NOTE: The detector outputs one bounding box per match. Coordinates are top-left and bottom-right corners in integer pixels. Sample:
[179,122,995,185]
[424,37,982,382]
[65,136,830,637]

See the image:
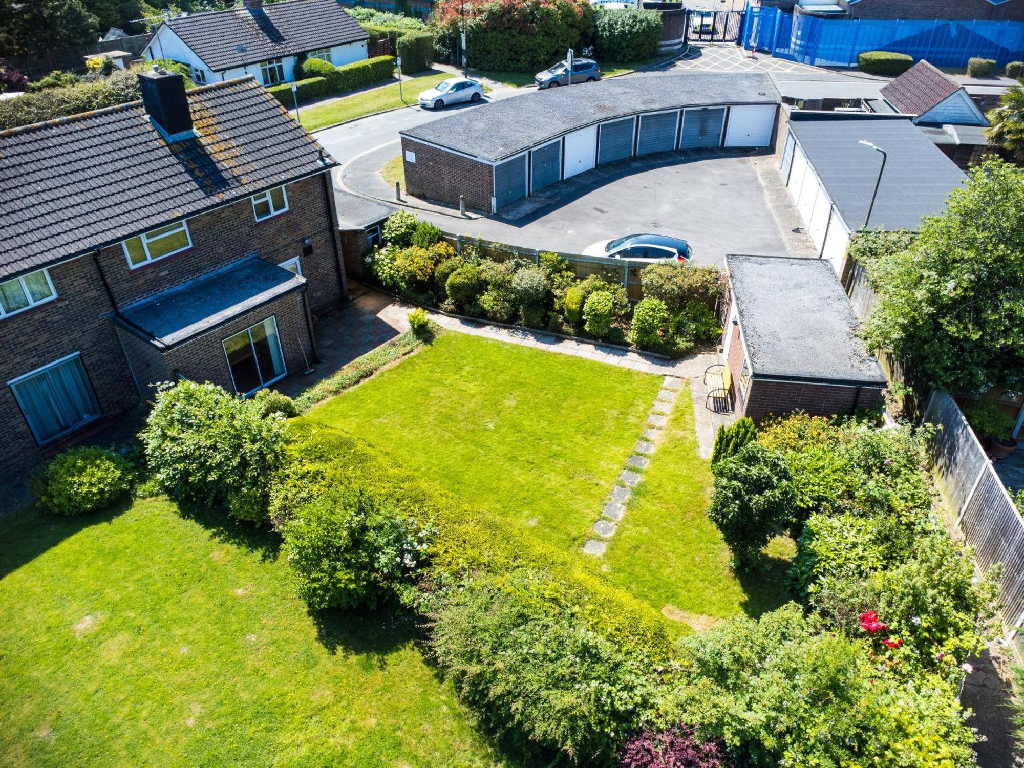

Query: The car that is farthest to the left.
[416,77,486,108]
